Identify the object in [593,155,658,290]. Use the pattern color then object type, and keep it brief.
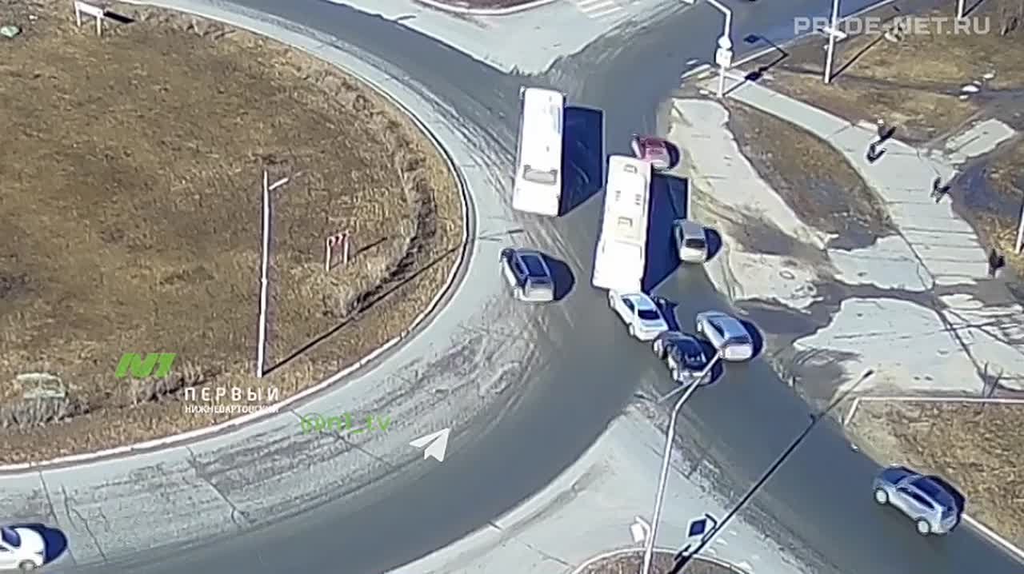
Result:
white bus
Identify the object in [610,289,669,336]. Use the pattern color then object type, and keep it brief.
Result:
white car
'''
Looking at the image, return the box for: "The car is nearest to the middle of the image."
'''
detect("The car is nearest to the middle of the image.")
[504,251,556,298]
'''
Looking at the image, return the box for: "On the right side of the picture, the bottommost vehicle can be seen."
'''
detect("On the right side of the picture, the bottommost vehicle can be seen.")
[873,470,966,535]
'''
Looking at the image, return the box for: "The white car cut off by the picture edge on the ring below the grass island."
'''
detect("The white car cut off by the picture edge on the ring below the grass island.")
[0,525,48,572]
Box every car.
[0,525,48,572]
[627,134,671,169]
[873,470,966,535]
[610,289,669,336]
[672,222,711,261]
[655,335,715,384]
[504,251,556,298]
[699,313,754,359]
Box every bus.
[593,155,658,290]
[514,87,568,214]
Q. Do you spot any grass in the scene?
Yes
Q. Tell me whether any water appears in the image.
No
